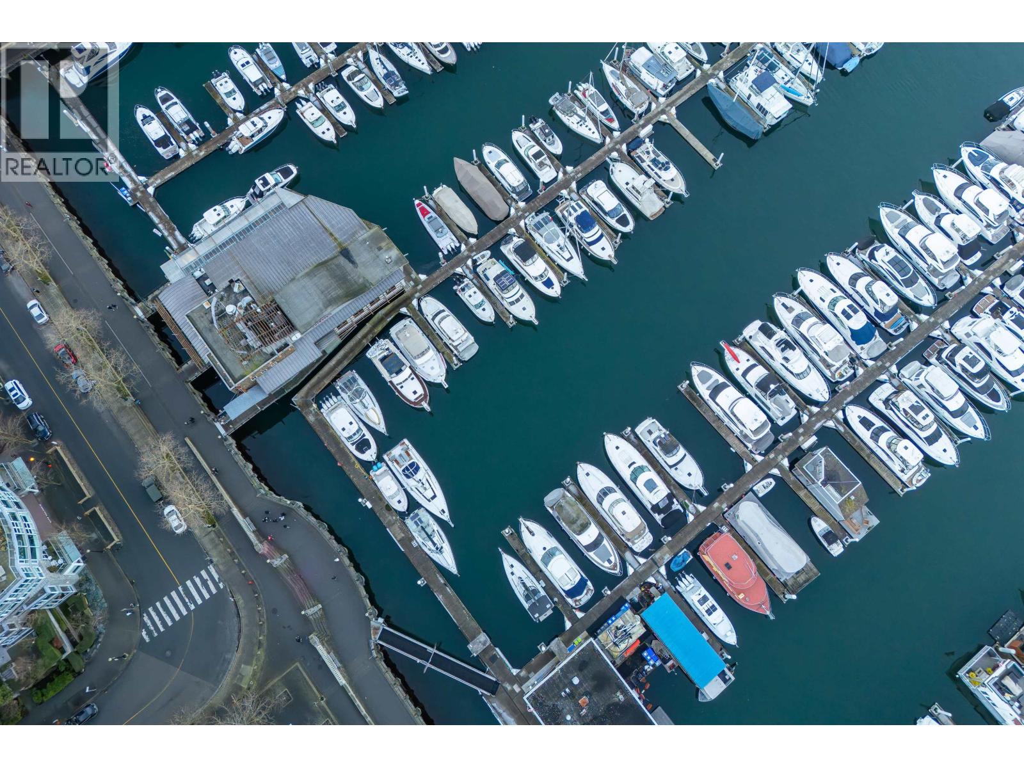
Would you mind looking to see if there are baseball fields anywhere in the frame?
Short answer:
No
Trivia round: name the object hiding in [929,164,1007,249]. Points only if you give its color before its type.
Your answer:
white boat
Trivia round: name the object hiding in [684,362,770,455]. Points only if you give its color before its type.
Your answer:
white boat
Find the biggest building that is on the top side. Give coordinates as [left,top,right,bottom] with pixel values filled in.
[145,187,422,426]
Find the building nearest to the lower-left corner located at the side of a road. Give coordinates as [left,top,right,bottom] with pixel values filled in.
[0,457,89,663]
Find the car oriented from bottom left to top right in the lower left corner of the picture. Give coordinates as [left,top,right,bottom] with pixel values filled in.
[66,702,97,727]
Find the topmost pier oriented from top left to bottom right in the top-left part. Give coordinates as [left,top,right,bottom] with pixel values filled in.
[44,59,192,254]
